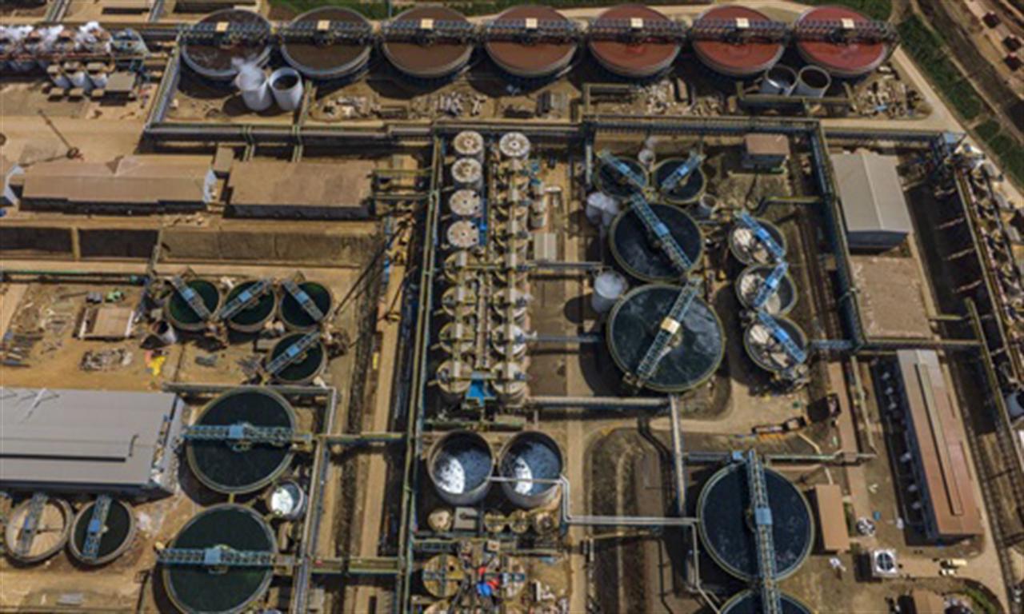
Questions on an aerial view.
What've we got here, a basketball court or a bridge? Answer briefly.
bridge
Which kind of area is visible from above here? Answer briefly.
industrial area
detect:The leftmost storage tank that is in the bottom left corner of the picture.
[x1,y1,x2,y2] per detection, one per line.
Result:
[0,487,78,570]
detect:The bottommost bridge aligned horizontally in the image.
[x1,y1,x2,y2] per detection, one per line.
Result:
[147,546,291,566]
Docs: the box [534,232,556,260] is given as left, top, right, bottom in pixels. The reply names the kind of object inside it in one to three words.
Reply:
shed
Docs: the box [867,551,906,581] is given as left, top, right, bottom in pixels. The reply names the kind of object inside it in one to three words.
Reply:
cooling tower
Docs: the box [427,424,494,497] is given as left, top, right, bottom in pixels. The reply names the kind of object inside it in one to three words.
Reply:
storage tank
